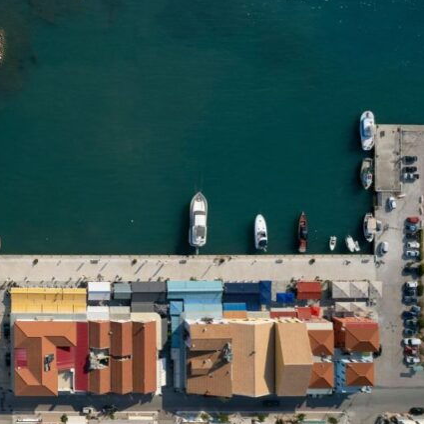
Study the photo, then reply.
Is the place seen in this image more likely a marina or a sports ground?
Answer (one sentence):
The picture captures a marina.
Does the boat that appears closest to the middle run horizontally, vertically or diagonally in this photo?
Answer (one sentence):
Seen from above, the boat that appears closest to the middle lies vertically.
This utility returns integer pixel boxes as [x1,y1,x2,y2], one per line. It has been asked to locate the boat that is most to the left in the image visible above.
[187,192,208,256]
